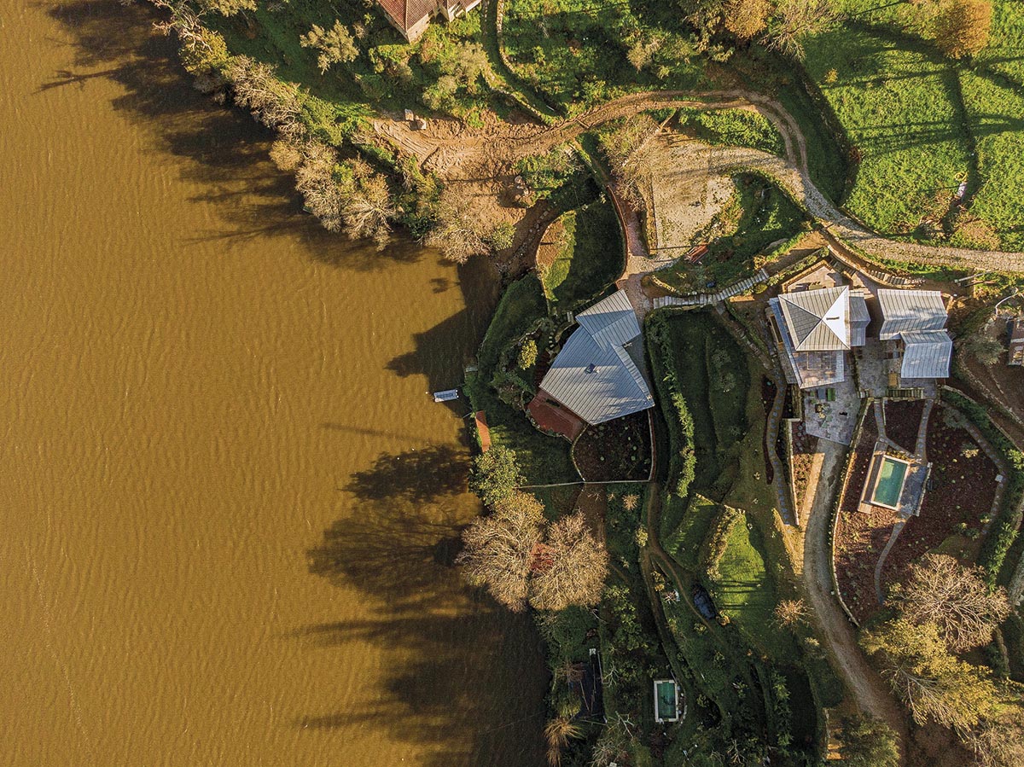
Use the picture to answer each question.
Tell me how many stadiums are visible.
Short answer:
zero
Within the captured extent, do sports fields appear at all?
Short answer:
No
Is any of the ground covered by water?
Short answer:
Yes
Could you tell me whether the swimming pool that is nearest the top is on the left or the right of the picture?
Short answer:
right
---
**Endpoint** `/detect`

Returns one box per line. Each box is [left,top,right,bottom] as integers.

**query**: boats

[433,389,459,402]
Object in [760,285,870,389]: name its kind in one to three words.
house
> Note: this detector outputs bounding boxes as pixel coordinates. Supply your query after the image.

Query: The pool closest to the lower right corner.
[856,443,910,513]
